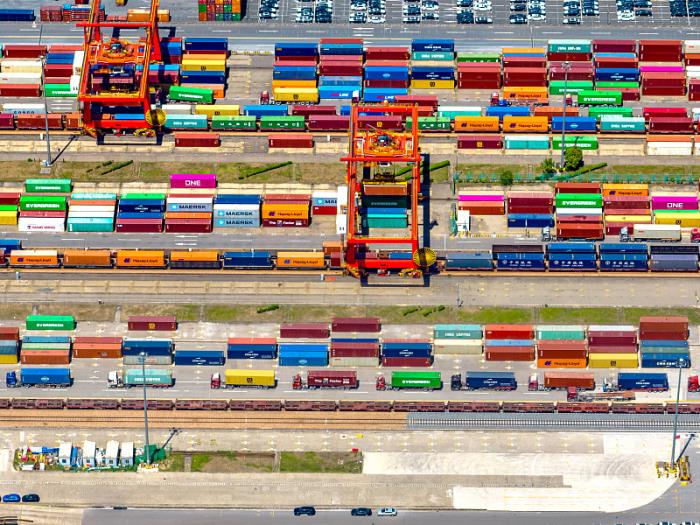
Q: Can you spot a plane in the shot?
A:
No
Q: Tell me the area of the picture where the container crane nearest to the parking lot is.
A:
top left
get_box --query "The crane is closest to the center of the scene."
[332,103,436,277]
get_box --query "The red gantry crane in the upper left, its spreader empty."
[62,0,161,137]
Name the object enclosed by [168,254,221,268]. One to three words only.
rail car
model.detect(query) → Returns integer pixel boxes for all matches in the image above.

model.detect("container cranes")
[332,103,436,277]
[62,0,161,137]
